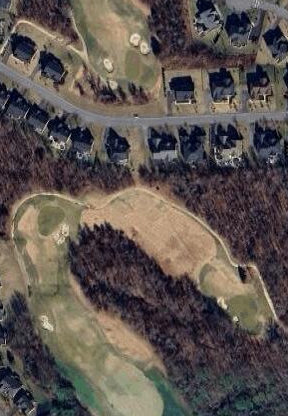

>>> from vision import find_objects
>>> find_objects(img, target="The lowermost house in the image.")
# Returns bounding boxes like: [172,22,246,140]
[5,387,37,411]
